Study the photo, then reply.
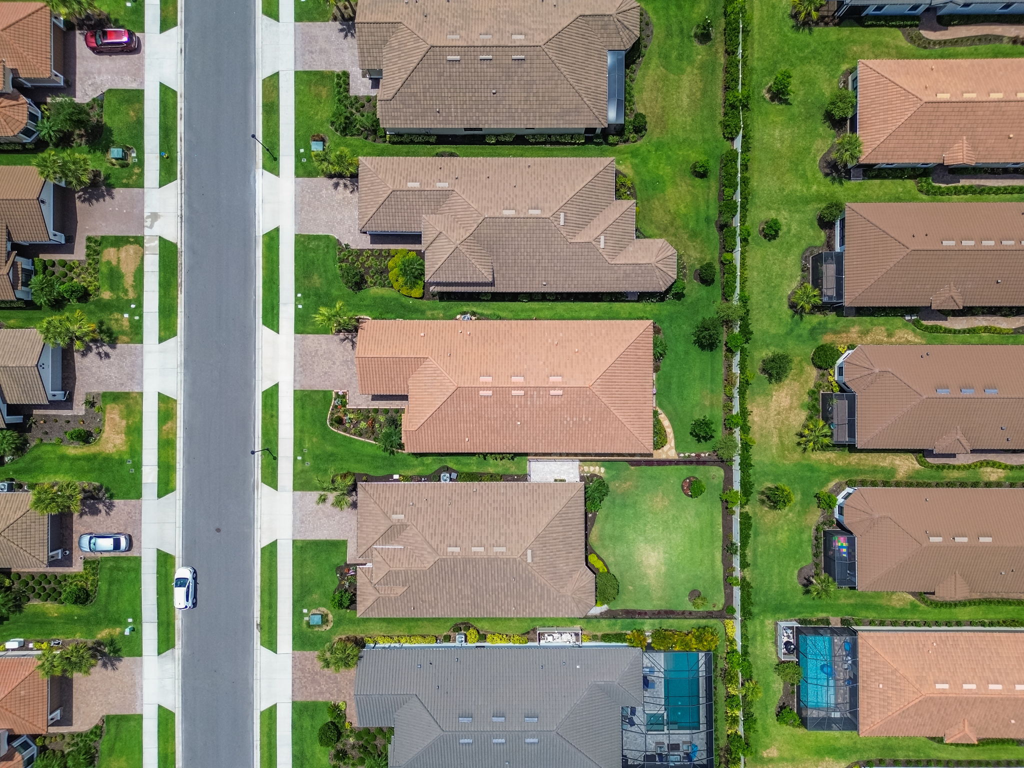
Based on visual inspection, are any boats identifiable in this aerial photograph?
No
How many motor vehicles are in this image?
3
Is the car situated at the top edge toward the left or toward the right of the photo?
left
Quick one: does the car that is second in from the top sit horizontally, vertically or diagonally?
horizontally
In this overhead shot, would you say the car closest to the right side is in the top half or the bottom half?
bottom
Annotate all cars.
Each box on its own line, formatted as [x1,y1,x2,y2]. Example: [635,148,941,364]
[171,566,196,609]
[80,532,130,555]
[86,27,135,53]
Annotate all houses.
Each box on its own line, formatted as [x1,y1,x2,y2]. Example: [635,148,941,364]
[356,481,597,619]
[0,166,65,303]
[794,625,1024,745]
[0,492,63,569]
[358,156,677,293]
[0,328,65,429]
[810,202,1024,310]
[848,59,1024,172]
[0,653,62,768]
[0,1,65,140]
[823,487,1024,597]
[833,0,1024,21]
[354,641,714,768]
[820,344,1024,454]
[355,319,654,454]
[355,0,641,135]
